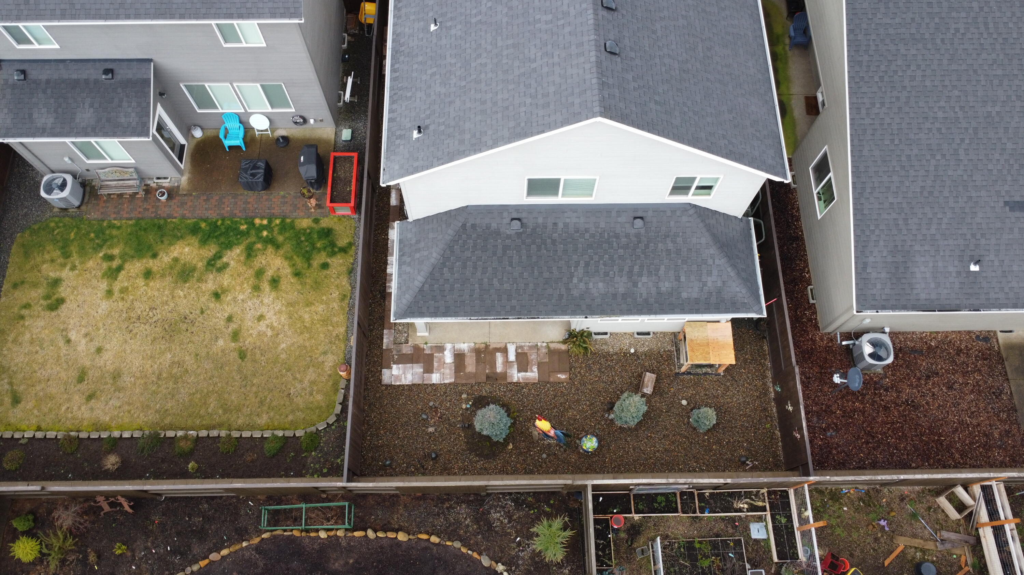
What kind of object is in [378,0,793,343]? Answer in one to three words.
house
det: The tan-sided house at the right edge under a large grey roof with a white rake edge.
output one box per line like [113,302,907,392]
[787,0,1024,345]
